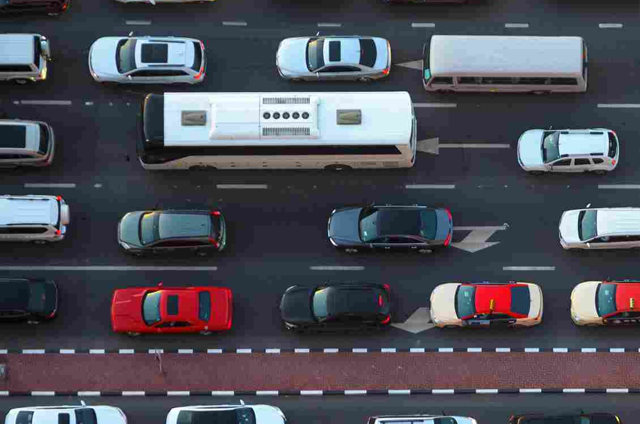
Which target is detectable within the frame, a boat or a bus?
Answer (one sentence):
There is a bus in the scene.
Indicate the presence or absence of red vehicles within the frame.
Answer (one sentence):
Yes, the frame does contain a red vehicle.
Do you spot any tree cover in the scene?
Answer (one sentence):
No, there's no tree cover in this view.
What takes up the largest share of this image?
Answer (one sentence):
Most of the picture is covered by paved ground.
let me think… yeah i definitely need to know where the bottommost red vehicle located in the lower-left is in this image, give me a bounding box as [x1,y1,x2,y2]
[110,280,232,337]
